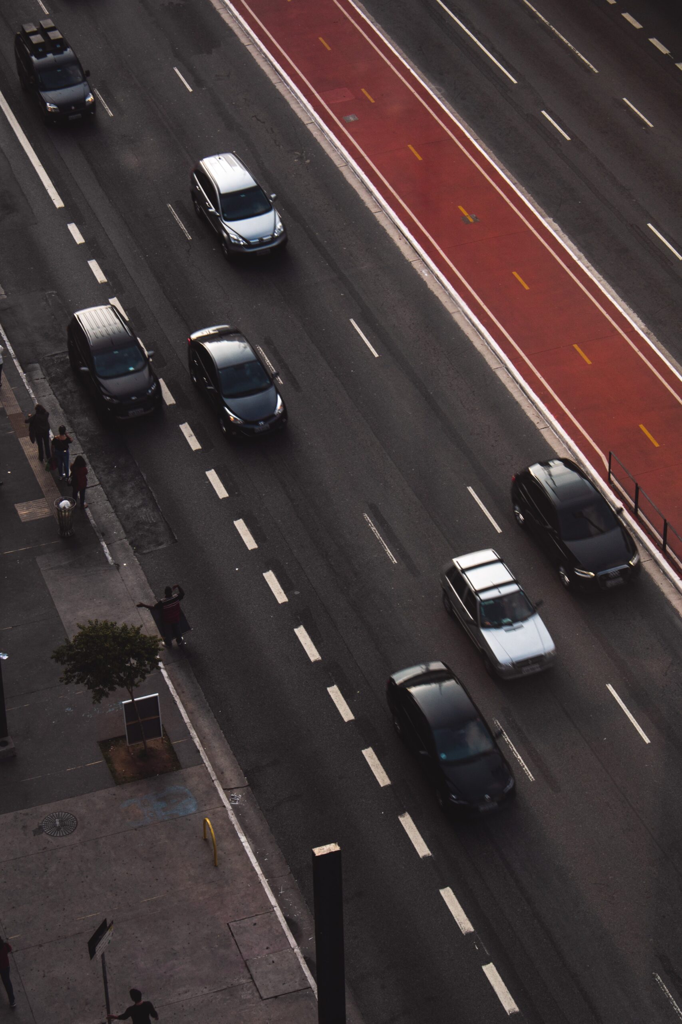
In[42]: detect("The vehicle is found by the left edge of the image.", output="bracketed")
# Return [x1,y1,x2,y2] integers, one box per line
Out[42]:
[15,27,95,124]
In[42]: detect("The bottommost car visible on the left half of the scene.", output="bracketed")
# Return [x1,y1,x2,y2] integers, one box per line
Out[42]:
[187,327,288,437]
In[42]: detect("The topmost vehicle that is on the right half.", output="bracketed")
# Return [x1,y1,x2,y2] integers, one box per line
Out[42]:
[510,457,637,586]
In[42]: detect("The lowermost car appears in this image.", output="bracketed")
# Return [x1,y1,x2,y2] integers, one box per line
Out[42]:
[383,662,516,814]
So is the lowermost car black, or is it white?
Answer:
black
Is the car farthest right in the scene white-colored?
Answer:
No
